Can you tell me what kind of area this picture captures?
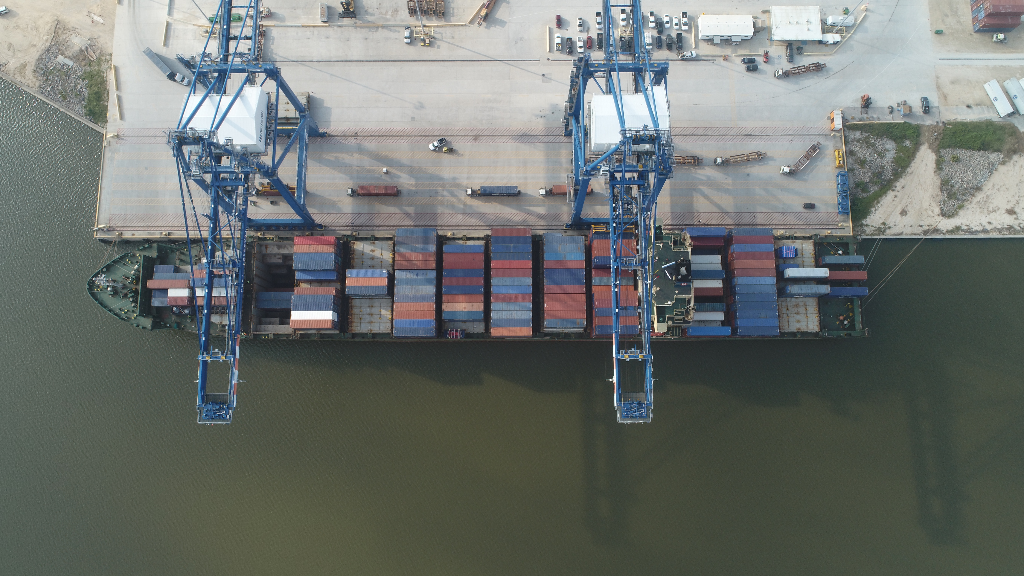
port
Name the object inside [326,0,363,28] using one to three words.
work vehicle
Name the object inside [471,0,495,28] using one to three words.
truck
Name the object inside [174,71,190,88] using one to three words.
vehicle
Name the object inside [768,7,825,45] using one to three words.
building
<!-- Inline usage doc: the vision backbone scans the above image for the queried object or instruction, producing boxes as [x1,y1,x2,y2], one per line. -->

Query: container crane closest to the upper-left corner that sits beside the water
[161,0,327,426]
